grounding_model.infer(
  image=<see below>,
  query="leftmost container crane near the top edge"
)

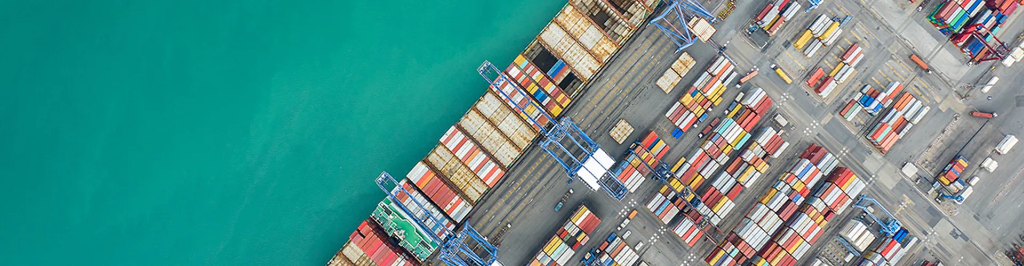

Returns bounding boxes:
[647,0,742,70]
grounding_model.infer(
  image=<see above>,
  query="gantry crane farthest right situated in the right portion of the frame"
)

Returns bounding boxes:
[948,24,1007,65]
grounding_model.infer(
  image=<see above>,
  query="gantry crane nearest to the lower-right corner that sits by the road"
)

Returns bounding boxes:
[846,196,905,242]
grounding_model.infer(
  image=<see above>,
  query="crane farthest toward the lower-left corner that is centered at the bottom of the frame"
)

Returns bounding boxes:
[374,171,510,266]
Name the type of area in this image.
port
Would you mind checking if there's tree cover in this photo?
No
